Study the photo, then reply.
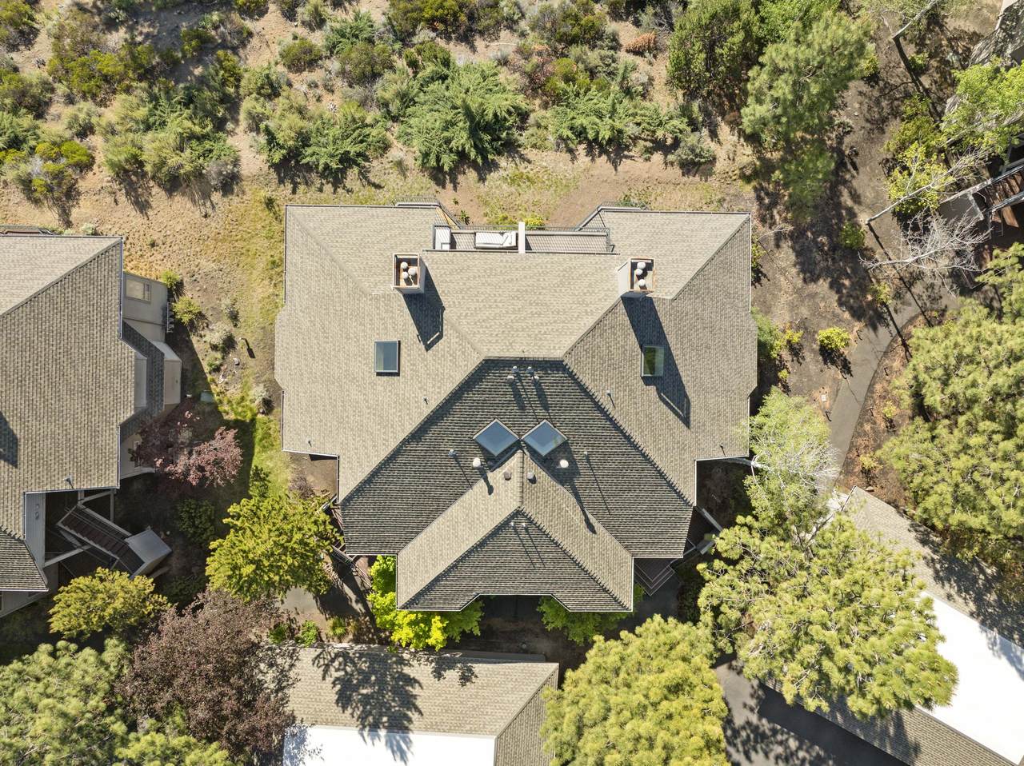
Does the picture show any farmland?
No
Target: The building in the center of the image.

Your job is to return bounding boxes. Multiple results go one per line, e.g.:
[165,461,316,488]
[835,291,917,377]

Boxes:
[273,201,759,614]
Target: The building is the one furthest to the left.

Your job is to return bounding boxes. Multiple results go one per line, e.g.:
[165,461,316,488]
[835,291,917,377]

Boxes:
[0,229,184,622]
